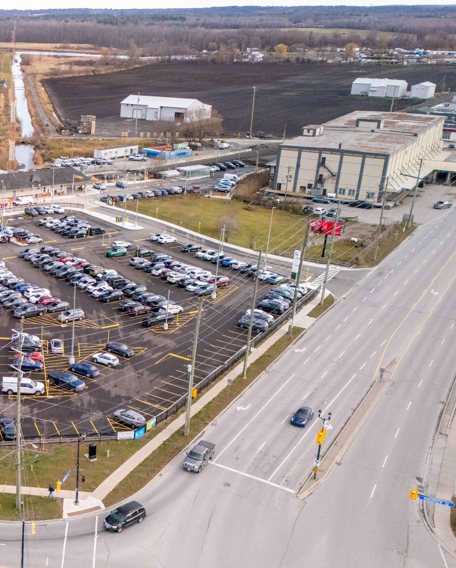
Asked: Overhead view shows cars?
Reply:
Yes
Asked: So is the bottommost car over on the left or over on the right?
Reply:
left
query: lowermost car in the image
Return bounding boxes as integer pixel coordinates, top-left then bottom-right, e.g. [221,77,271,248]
[100,500,149,534]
